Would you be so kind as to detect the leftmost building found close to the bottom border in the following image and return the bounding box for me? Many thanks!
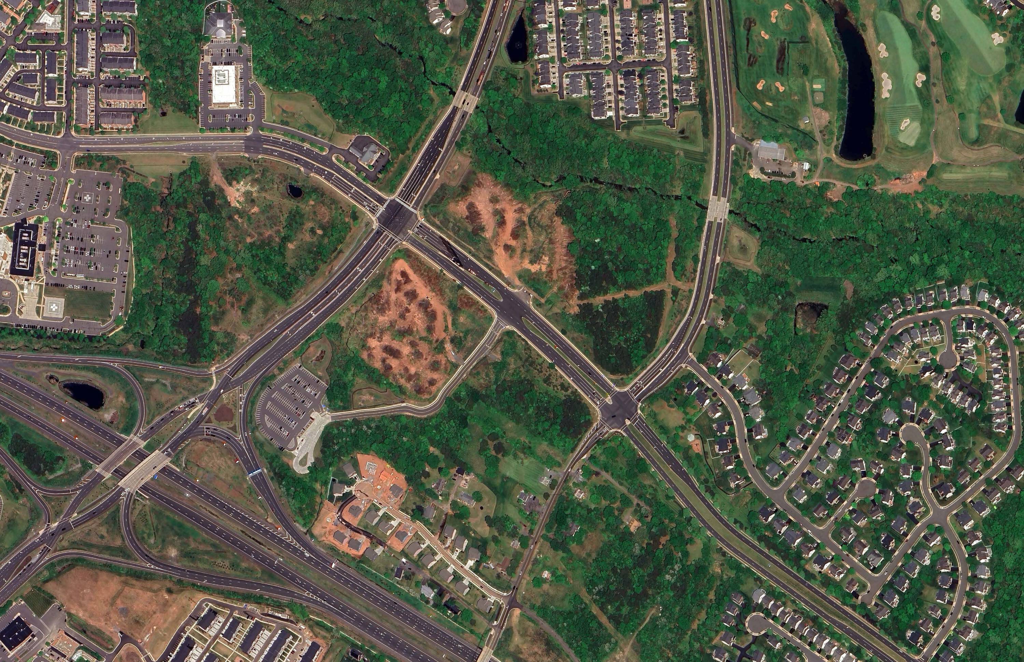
[0,616,34,652]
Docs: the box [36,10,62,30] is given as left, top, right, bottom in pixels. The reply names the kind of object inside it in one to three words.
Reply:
building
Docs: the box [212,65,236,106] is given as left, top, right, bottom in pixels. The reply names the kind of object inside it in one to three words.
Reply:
building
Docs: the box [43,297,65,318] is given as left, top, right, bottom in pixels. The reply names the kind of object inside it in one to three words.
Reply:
helipad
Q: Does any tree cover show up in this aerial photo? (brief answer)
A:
Yes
